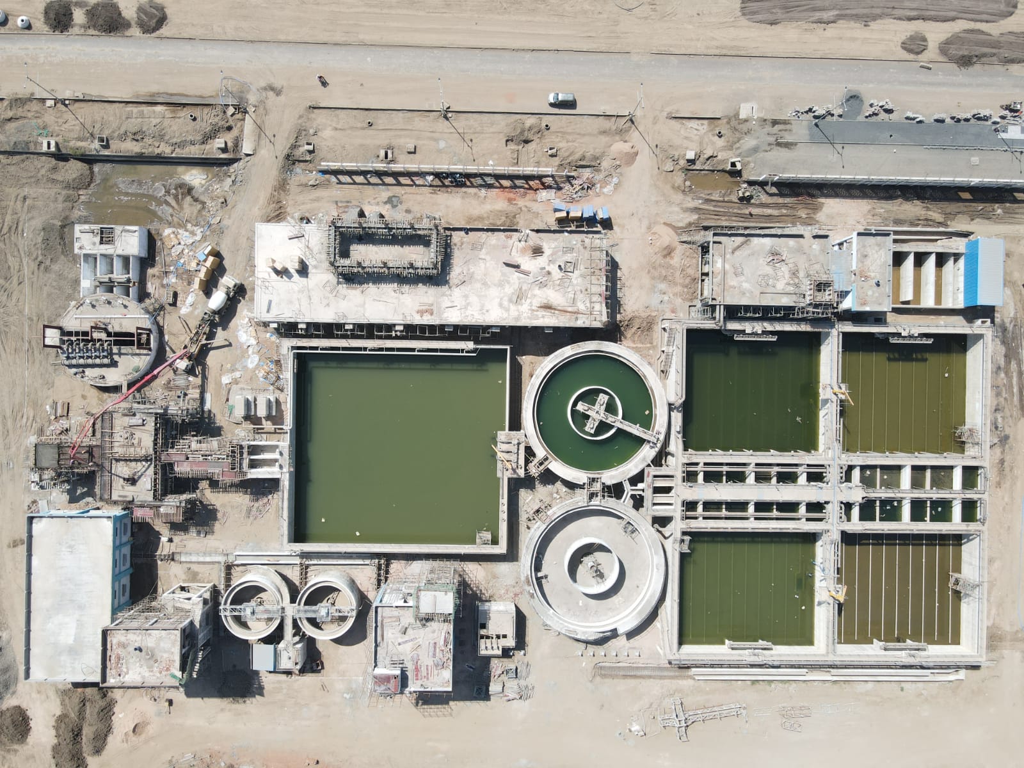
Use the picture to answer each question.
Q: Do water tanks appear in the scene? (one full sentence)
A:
Yes, looking at the shot, I can spot a water tank.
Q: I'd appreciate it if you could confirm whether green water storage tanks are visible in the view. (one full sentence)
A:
Yes, there's a green water storage tank here.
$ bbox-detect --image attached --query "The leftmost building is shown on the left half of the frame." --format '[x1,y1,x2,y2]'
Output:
[25,509,137,682]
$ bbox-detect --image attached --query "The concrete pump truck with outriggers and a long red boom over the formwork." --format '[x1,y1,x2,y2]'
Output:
[69,314,233,464]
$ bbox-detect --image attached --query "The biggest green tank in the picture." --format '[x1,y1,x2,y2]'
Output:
[256,339,525,555]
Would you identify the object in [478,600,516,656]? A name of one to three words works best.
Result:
building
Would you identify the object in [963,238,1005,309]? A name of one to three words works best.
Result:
shed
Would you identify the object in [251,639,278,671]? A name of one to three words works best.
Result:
shed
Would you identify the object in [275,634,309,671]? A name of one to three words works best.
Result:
building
